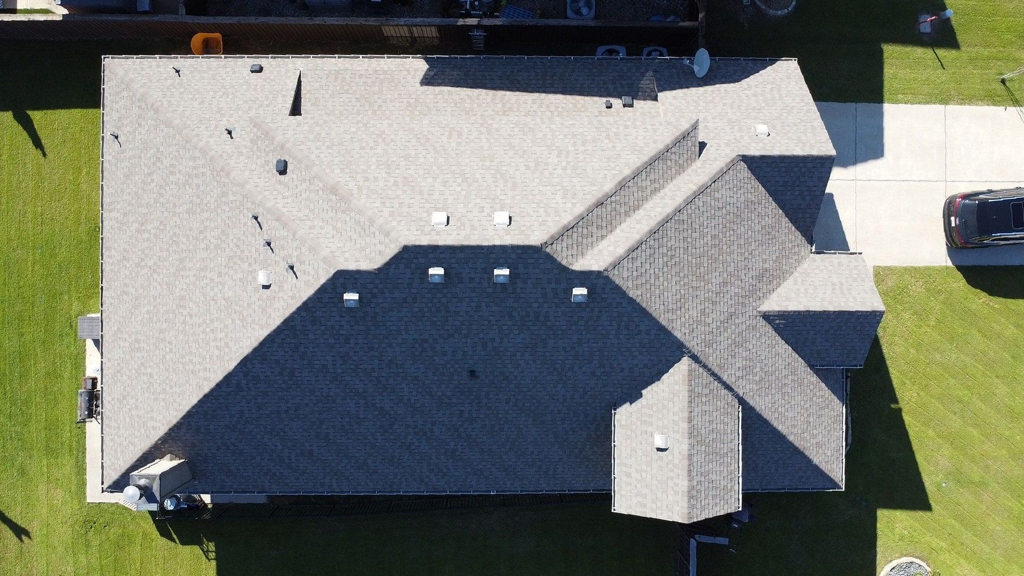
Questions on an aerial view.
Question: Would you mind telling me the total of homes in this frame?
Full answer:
In total, there is 1 home in the scene.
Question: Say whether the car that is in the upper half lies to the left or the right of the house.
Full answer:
The car that is in the upper half appears to the right of the house in this view.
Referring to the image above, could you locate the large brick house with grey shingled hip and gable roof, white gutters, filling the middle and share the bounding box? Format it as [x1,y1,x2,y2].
[102,55,886,525]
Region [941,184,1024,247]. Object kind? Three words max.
car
